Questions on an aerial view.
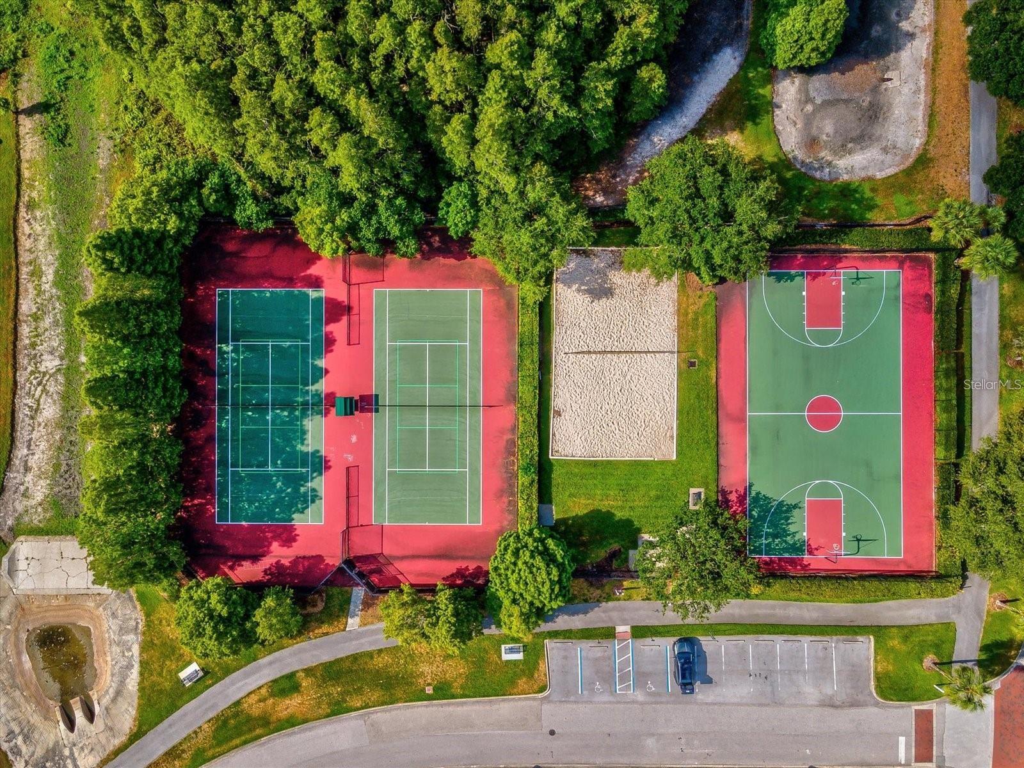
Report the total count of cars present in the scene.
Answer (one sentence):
The photo contains exactly 1 car.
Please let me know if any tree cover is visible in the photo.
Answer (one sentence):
Yes, tree cover shows up in the scene.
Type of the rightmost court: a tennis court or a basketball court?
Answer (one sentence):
The rightmost court in the image is a basketball court.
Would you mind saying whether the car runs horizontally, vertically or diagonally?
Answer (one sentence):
The car is oriented vertically.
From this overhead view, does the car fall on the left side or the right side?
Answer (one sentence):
The car is on the right side of the image.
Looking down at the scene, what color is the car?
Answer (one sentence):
The car looks blue in the image.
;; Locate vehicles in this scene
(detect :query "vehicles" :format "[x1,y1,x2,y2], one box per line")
[672,637,695,697]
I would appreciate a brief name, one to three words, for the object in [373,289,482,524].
tennis court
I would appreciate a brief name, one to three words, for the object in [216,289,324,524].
tennis court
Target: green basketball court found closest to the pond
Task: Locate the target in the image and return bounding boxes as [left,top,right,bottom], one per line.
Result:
[715,255,936,574]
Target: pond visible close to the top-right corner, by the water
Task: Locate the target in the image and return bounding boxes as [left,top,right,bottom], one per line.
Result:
[773,0,933,180]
